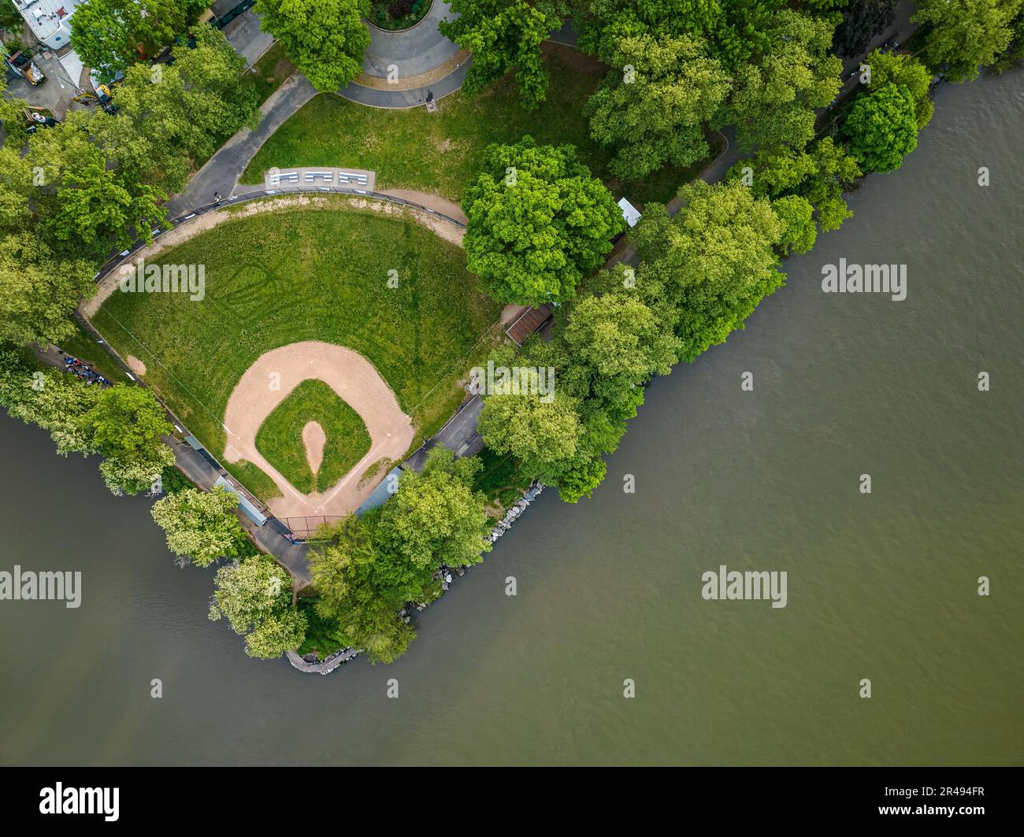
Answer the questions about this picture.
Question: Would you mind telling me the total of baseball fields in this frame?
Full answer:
The photo contains exactly 1 baseball field.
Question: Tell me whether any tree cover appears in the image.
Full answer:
Yes, there is tree cover in the image.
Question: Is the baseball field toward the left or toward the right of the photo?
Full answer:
It is on the left.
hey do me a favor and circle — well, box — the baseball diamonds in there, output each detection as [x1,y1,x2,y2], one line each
[81,194,524,538]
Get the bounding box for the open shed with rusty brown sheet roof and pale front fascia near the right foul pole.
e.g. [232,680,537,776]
[505,292,562,347]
